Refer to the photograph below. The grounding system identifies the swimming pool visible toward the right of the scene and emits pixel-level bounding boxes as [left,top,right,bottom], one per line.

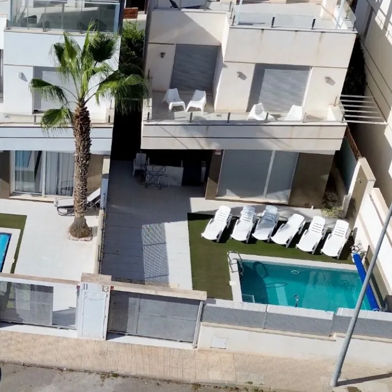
[228,250,374,329]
